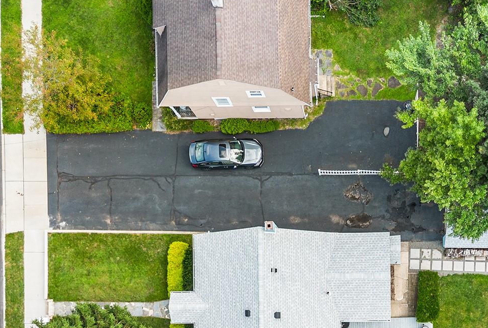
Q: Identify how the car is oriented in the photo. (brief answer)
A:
from left to right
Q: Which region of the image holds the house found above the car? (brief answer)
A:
top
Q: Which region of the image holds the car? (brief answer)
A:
center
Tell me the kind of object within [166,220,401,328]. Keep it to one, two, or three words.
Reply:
house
